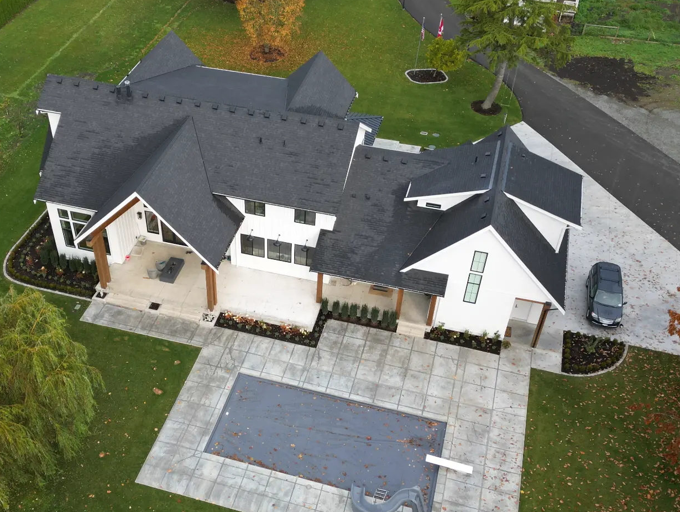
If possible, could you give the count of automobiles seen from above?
1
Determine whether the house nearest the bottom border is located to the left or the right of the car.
on the left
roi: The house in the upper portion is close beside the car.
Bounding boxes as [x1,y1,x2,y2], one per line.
[30,31,585,346]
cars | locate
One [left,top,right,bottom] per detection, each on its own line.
[586,261,629,330]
